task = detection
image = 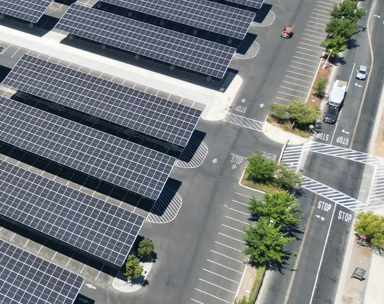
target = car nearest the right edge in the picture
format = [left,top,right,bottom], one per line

[355,67,368,81]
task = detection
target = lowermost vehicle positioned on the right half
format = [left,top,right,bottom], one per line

[323,104,339,123]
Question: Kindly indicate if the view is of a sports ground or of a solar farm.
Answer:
solar farm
